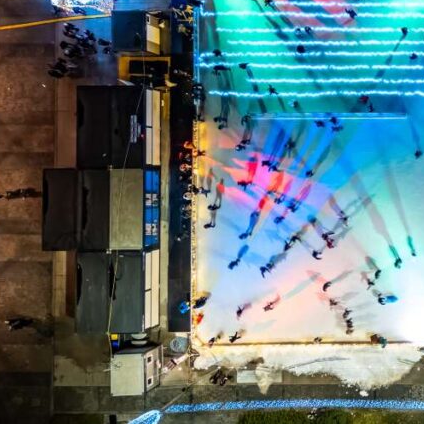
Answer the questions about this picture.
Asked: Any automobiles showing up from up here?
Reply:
No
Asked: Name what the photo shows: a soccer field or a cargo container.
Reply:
cargo container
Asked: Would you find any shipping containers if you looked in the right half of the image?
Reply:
No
